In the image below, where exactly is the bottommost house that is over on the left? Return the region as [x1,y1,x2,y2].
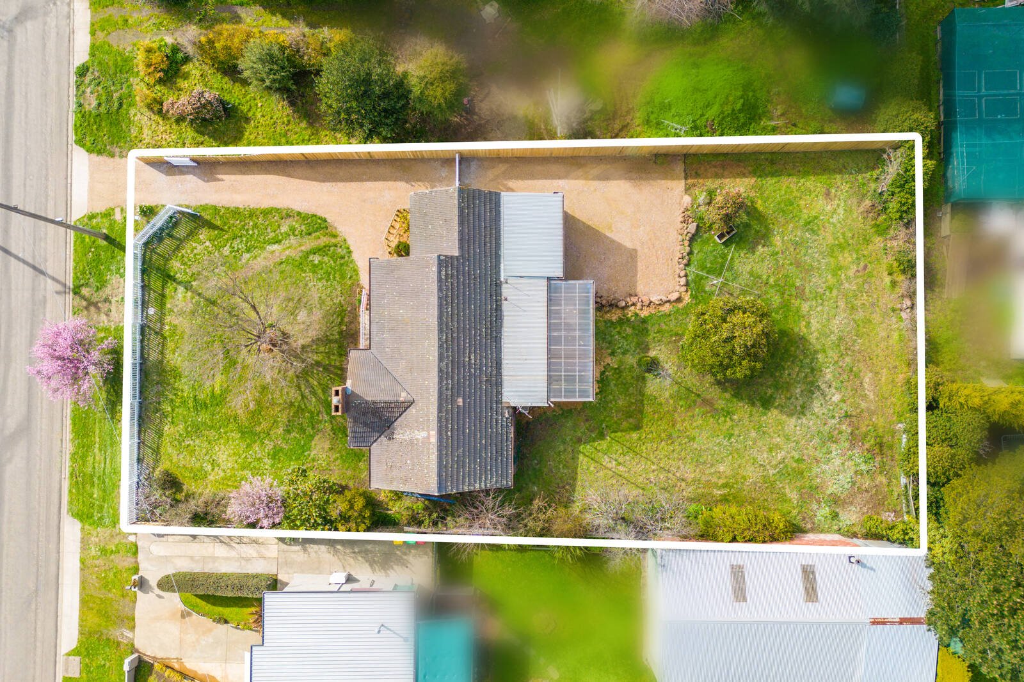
[248,576,418,682]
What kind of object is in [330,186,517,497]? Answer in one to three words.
house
